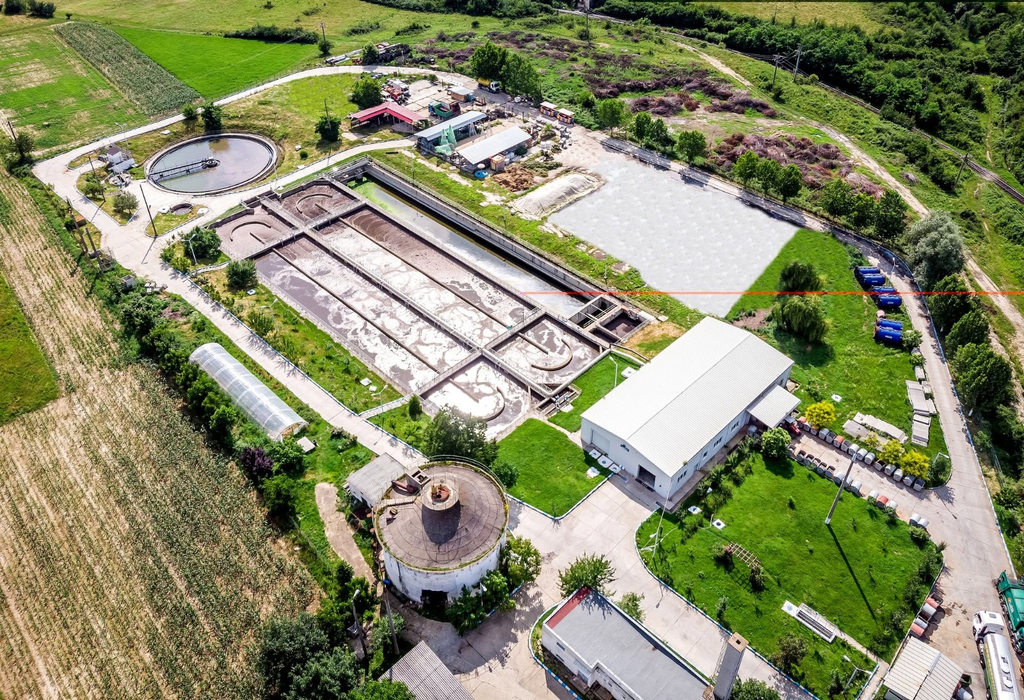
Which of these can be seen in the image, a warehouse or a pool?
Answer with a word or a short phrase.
warehouse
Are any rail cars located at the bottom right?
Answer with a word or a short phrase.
No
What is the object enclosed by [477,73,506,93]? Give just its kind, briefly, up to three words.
vehicle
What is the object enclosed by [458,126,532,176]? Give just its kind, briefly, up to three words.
shed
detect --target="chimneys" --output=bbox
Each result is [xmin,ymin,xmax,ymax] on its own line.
[709,633,751,700]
